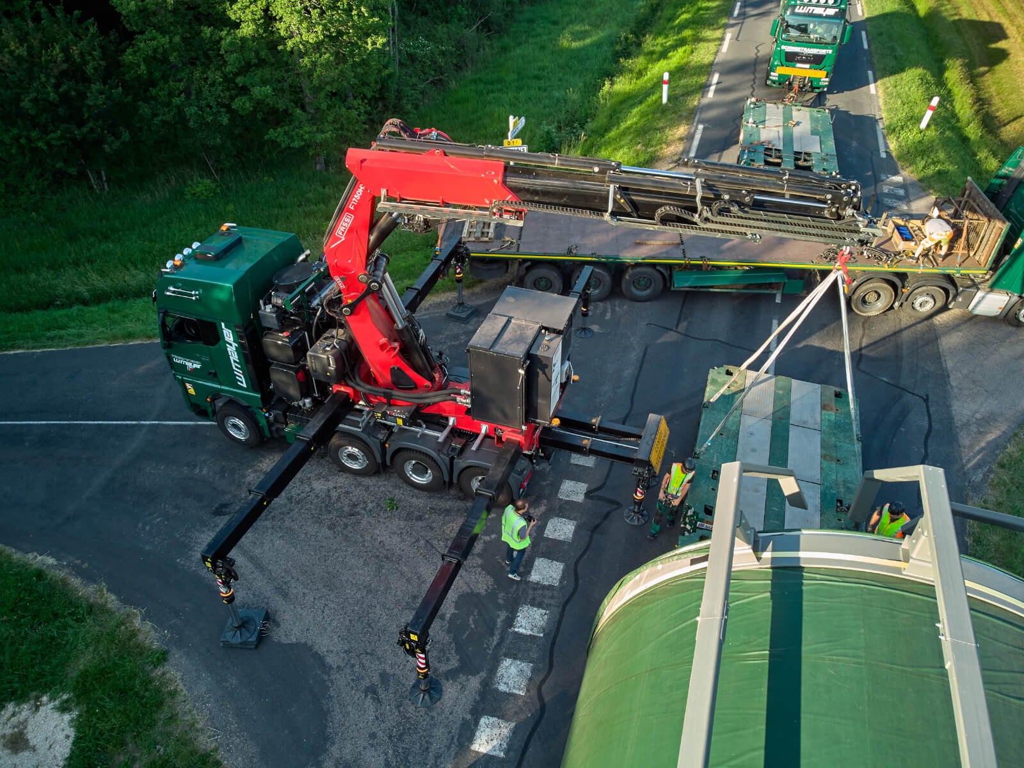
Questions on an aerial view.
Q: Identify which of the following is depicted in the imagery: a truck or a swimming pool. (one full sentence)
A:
This aerial view contains a truck.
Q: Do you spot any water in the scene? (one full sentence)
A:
No, the picture contains no water.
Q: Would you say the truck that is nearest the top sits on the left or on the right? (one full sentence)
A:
The truck that is nearest the top appears in the right half of the scene.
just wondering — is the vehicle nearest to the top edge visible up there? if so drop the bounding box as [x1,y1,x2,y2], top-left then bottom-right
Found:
[767,0,859,93]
